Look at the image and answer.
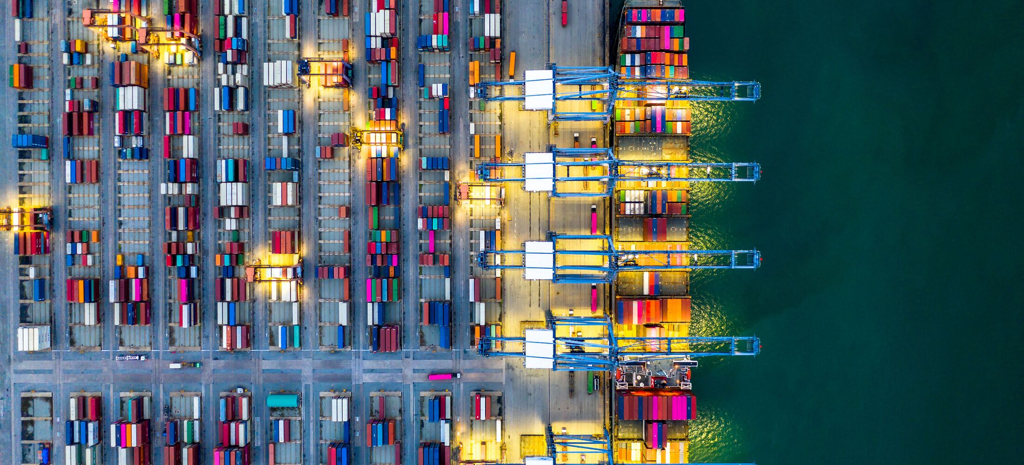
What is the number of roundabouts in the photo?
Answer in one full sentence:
The count of roundabouts is 0.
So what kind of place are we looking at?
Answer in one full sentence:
This image shows a port.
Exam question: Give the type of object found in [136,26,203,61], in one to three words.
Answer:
crane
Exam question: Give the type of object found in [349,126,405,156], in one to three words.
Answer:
crane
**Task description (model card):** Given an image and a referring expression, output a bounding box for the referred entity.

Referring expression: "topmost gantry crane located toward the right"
[475,67,760,132]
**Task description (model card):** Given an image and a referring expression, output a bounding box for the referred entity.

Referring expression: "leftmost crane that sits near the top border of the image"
[83,8,153,43]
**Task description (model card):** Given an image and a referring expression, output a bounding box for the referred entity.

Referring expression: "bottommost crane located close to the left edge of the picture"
[0,205,55,234]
